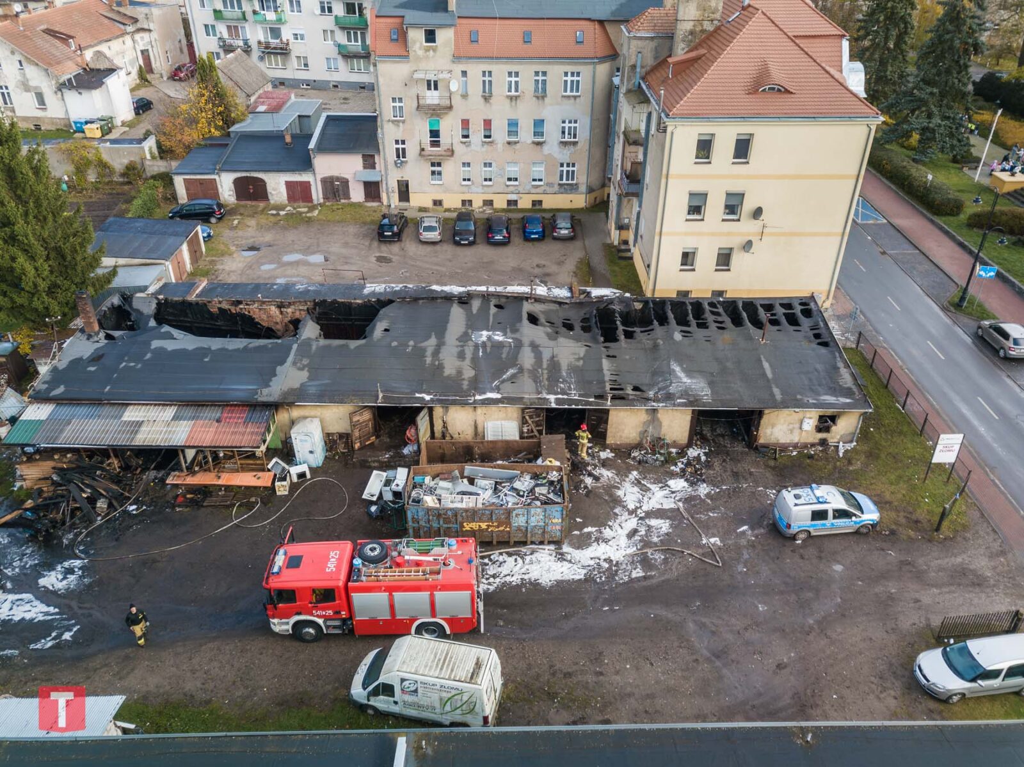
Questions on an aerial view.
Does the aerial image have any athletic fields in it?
No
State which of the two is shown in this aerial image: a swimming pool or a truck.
truck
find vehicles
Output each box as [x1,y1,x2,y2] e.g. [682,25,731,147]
[906,628,1024,705]
[166,214,220,238]
[379,208,416,239]
[486,211,514,241]
[135,97,160,111]
[450,208,479,242]
[170,64,190,78]
[417,210,445,239]
[974,319,1024,364]
[519,209,546,237]
[771,481,883,538]
[255,518,485,641]
[549,209,577,237]
[166,196,225,220]
[341,632,501,729]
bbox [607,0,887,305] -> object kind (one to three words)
house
